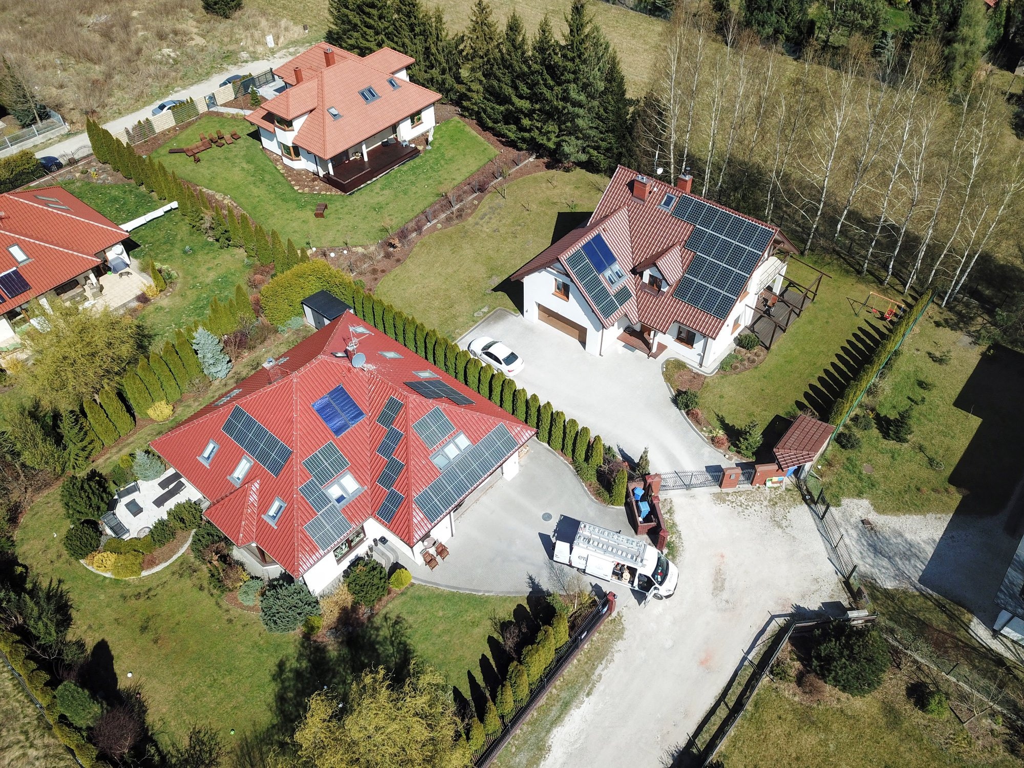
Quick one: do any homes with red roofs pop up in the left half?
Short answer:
Yes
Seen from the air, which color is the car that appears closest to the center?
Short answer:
white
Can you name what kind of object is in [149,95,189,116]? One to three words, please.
car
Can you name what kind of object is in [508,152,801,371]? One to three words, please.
house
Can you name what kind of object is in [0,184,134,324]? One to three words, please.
house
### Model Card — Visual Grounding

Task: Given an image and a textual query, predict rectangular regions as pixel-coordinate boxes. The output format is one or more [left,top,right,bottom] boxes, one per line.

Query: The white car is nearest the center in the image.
[461,331,523,374]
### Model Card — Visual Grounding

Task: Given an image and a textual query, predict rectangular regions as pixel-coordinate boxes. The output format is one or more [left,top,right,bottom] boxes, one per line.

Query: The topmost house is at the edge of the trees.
[244,41,443,195]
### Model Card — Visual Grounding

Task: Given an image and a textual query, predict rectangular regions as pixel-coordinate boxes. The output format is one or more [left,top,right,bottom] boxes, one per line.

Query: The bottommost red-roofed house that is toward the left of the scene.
[147,309,539,596]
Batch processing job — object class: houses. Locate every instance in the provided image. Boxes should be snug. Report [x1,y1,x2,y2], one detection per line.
[987,475,1024,652]
[244,41,443,195]
[0,184,134,324]
[508,152,801,371]
[147,309,539,596]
